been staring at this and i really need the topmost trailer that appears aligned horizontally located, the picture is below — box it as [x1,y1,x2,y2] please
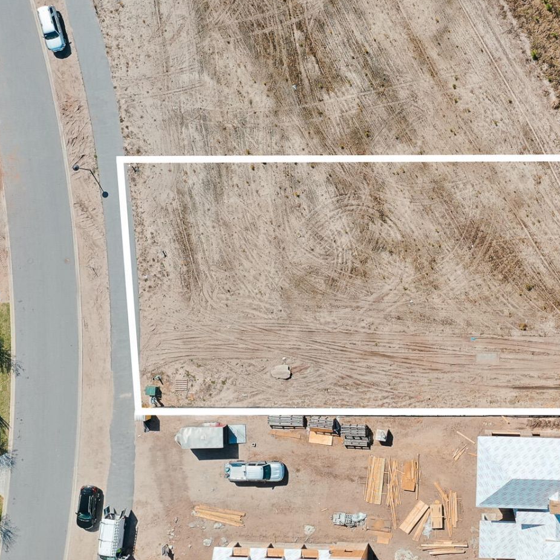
[169,422,251,449]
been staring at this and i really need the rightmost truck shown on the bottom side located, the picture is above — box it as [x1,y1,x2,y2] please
[223,459,285,485]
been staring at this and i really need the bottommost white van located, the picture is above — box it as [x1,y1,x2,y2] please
[97,502,135,560]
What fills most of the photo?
paved ground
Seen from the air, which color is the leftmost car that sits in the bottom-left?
black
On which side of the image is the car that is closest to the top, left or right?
left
